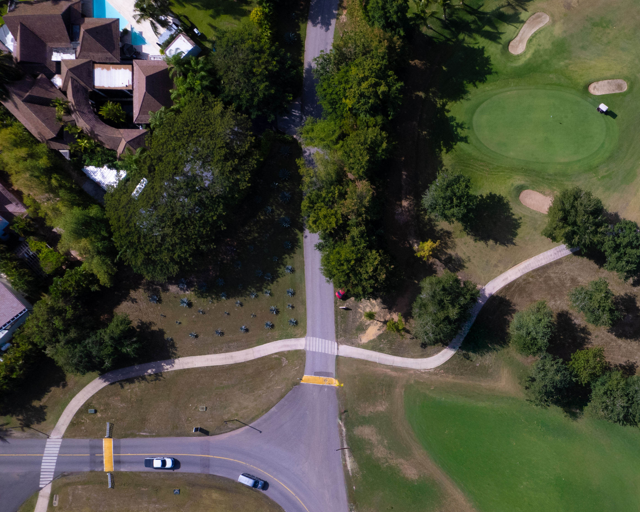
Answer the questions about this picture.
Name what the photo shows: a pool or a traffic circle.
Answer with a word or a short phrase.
pool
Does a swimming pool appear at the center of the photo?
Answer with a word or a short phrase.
No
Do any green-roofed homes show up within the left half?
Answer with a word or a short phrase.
No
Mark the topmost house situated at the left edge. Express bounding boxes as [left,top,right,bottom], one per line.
[0,0,188,154]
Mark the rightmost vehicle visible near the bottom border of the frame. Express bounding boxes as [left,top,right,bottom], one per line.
[236,472,267,491]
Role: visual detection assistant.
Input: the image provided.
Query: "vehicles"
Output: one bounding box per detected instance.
[596,104,609,117]
[236,472,267,491]
[144,457,176,470]
[334,285,351,301]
